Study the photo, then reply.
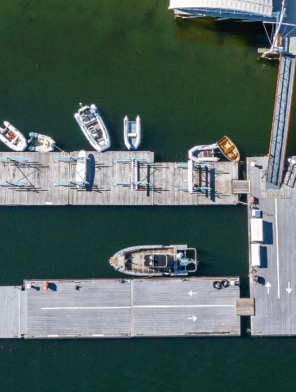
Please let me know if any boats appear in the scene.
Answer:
Yes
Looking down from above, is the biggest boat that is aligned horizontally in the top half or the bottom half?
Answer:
bottom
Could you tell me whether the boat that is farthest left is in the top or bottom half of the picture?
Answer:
top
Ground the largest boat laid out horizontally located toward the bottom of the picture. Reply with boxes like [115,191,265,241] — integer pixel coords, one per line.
[107,245,203,277]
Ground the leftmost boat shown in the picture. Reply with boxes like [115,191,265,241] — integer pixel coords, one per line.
[0,121,28,151]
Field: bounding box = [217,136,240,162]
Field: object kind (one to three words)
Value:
boat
